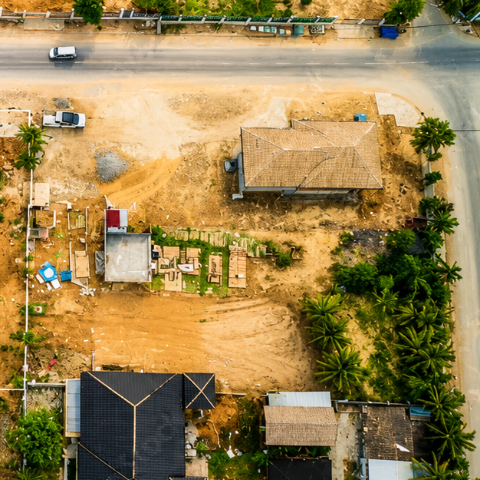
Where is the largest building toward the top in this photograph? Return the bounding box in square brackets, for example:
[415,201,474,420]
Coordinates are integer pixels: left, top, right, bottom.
[231,120,383,199]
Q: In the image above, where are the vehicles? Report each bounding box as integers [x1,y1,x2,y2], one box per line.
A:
[48,47,77,61]
[43,113,84,129]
